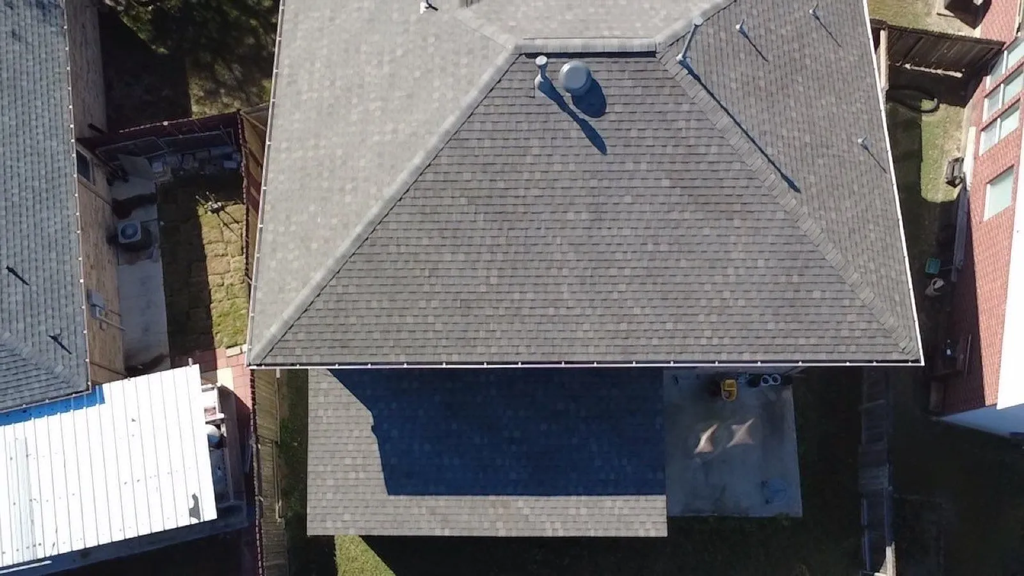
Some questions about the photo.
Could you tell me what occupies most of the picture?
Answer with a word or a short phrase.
buildings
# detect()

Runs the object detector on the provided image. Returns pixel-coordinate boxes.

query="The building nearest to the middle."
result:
[244,0,923,537]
